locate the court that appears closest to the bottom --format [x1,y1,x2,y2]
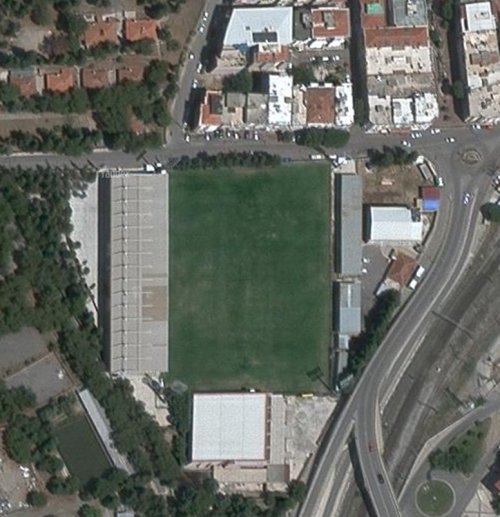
[5,353,75,403]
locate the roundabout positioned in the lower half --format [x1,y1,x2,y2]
[414,477,454,517]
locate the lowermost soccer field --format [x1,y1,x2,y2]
[54,412,114,484]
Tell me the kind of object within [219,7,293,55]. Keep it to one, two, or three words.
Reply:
building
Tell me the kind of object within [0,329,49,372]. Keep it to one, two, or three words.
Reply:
sports court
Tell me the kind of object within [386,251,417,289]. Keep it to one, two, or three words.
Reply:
house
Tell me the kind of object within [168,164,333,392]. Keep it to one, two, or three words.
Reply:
soccer field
